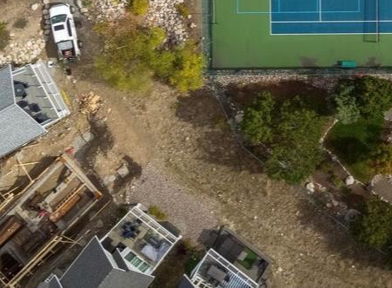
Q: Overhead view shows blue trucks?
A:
No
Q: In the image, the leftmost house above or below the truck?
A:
below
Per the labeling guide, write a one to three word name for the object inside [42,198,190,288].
house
